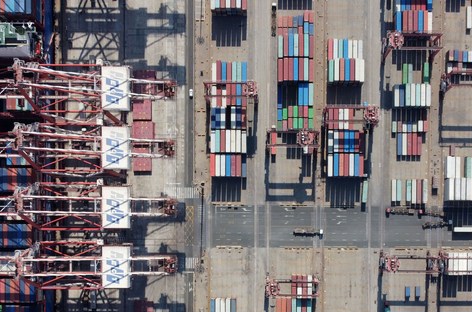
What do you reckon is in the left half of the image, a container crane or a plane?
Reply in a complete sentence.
The one visible in the left half of the image is a container crane.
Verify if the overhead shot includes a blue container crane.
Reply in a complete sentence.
No, the frame has no blue container crane in it.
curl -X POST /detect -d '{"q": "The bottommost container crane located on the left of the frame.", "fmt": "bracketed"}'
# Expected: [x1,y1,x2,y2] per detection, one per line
[0,236,181,291]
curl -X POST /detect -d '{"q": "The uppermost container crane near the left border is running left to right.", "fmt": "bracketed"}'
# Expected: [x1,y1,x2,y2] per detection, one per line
[0,57,181,130]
